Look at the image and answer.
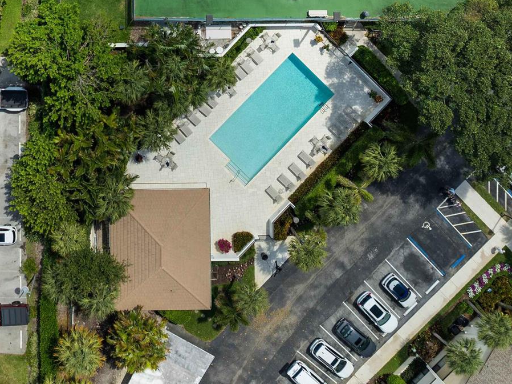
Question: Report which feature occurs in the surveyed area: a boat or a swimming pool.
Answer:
swimming pool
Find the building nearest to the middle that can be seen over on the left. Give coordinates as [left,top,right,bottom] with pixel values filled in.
[111,183,212,312]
